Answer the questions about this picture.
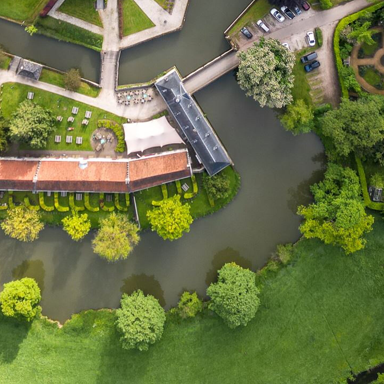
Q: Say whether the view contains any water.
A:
Yes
